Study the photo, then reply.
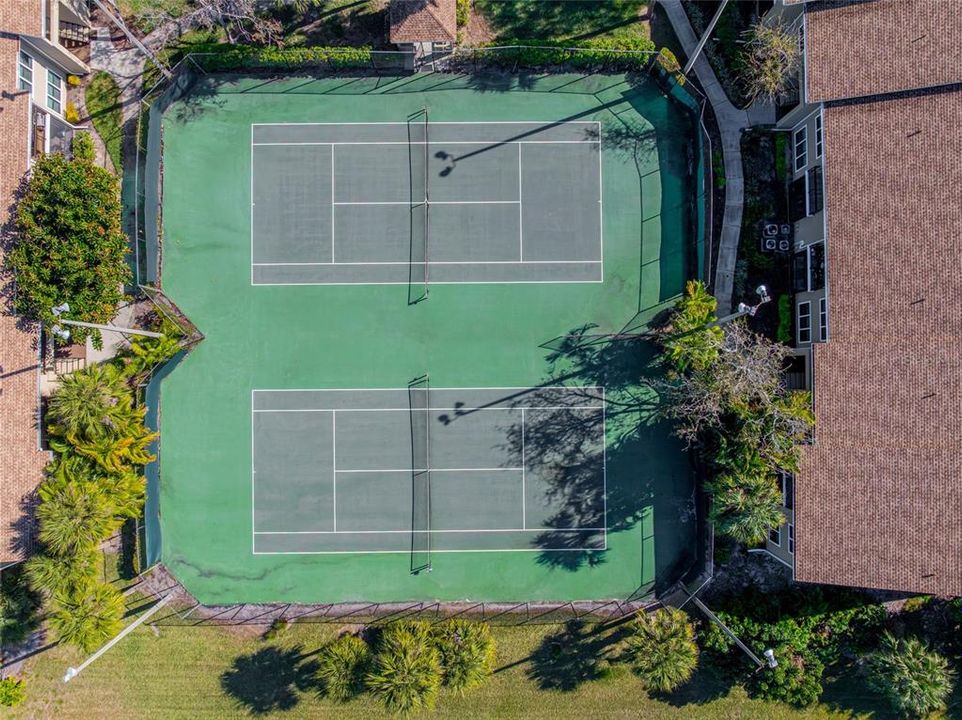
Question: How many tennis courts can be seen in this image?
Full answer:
Altogether the scene contains 2 tennis courts.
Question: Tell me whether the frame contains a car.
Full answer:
No, there appears to be no car in this shot.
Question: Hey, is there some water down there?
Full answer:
No, water can't be seen anywhere here.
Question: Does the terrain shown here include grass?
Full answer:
Yes, the picture does contain grass.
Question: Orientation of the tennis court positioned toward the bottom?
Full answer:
From this overhead view, the tennis court positioned toward the bottom appears to run horizontally.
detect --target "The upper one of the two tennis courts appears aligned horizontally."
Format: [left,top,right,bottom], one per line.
[252,122,602,285]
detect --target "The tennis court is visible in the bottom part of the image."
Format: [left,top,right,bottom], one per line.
[253,387,606,554]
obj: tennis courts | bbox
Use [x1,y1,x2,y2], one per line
[253,387,606,554]
[252,122,602,285]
